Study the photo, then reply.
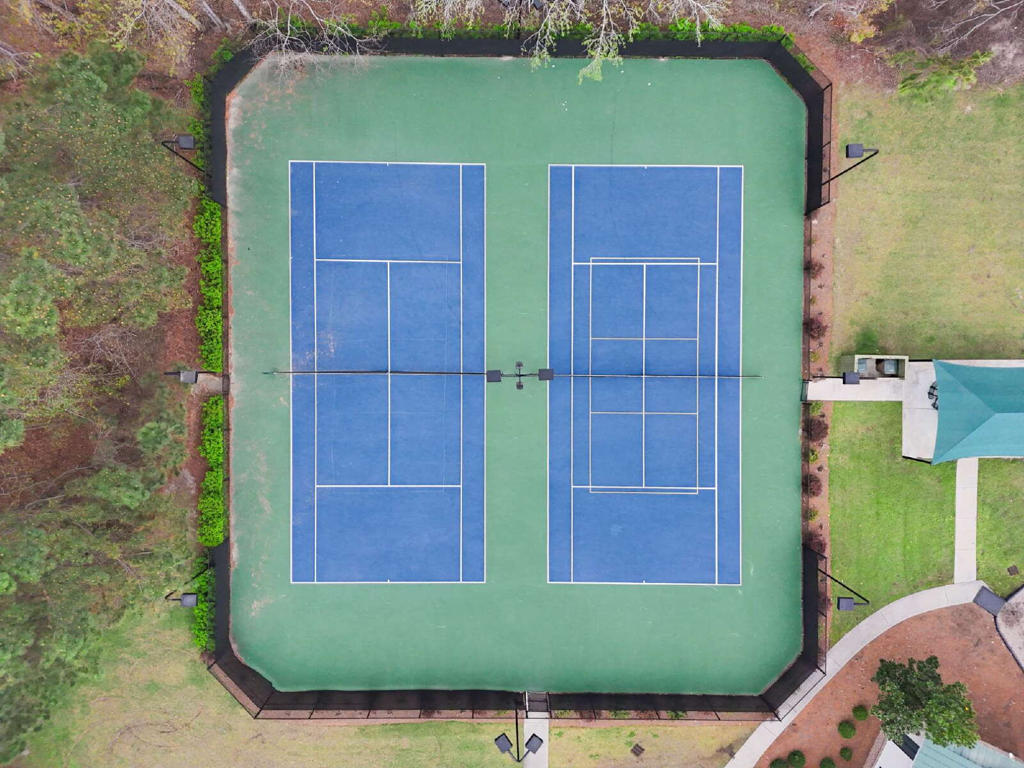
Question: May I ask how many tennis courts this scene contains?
2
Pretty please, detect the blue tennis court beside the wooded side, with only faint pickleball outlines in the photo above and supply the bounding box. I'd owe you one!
[228,57,520,692]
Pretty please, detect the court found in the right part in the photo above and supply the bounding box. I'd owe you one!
[520,59,806,694]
